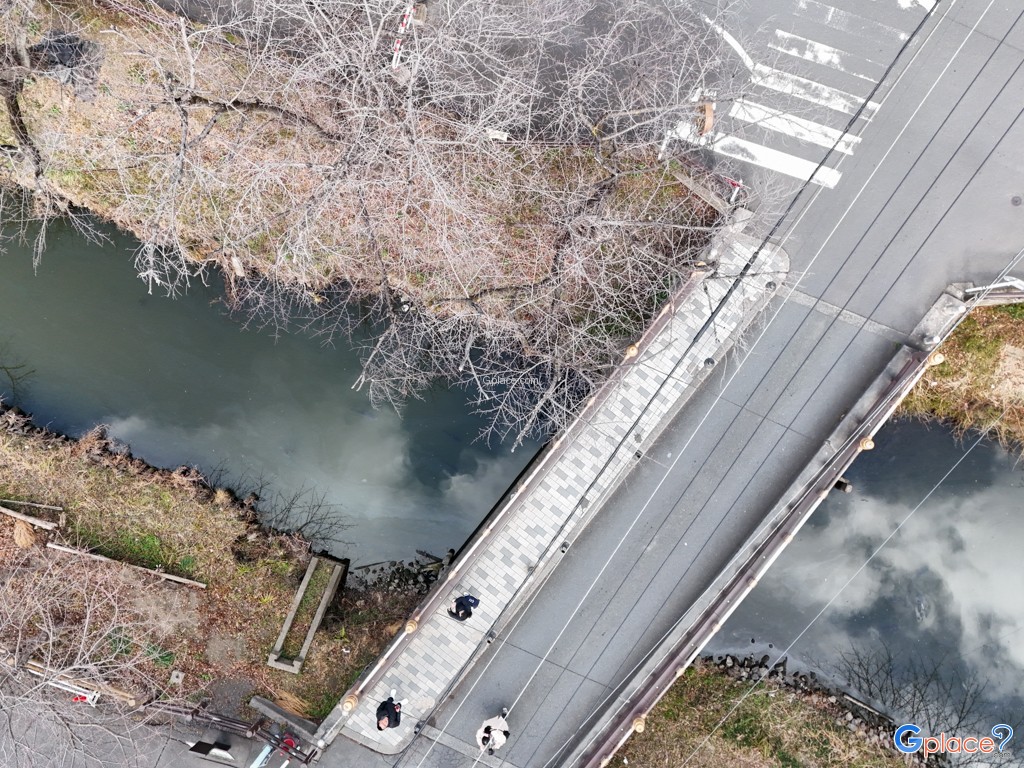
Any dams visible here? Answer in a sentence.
No, the scene contains no dam.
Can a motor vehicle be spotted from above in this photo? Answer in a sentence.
No, the frame has no motor vehicle in it.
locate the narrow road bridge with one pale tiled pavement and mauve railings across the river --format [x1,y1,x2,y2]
[327,236,984,768]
